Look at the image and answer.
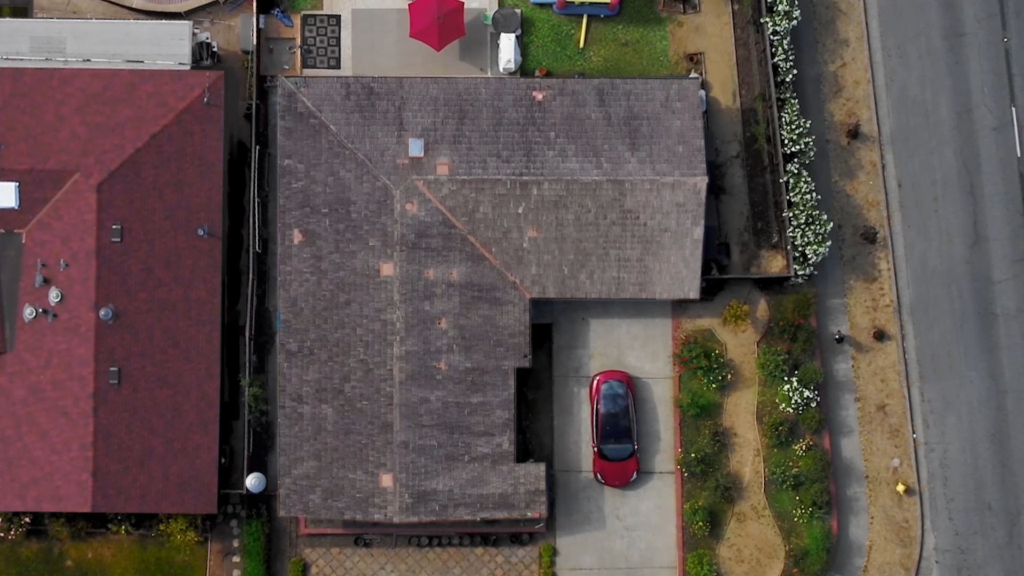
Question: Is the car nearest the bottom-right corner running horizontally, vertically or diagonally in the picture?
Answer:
vertically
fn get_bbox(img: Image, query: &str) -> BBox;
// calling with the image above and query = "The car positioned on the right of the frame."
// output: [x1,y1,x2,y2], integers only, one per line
[590,370,643,488]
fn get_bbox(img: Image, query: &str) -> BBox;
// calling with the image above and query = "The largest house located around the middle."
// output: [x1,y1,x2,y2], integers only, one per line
[276,75,708,523]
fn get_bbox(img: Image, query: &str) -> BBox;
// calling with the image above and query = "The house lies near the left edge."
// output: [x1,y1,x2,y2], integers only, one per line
[0,68,226,513]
